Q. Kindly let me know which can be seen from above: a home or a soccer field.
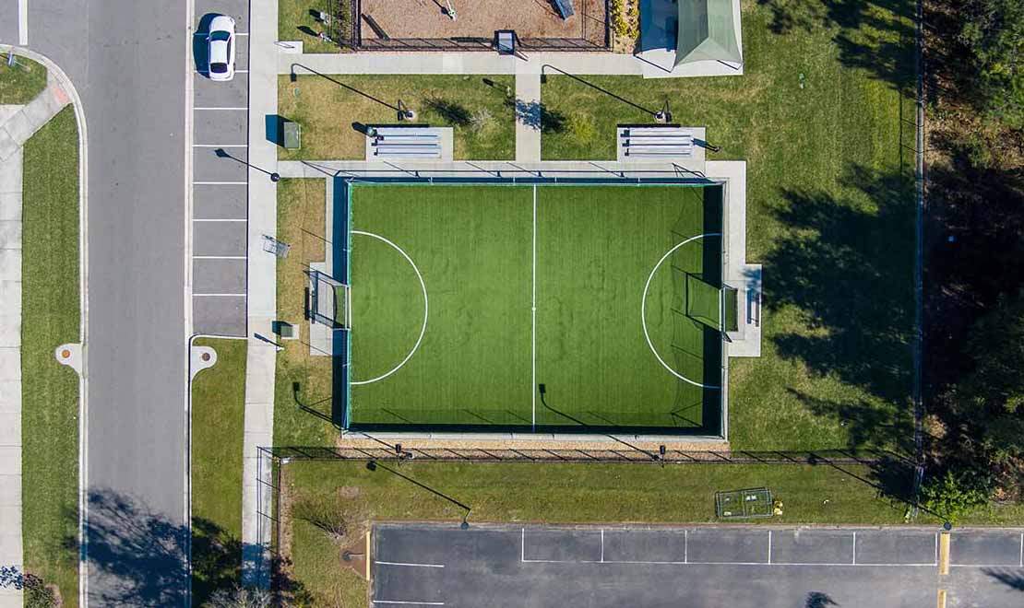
soccer field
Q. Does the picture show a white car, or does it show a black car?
white car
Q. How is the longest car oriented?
vertically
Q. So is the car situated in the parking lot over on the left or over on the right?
left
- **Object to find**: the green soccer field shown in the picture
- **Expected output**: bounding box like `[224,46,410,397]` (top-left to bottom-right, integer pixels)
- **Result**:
[336,184,737,432]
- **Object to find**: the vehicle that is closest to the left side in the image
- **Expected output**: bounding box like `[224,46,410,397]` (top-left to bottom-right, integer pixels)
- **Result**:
[205,15,236,81]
